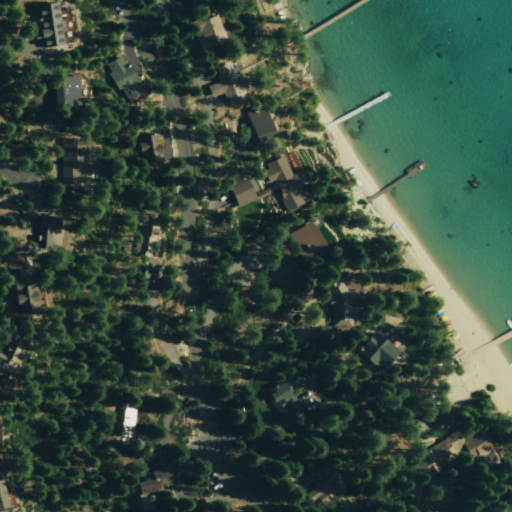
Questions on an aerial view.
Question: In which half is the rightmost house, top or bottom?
bottom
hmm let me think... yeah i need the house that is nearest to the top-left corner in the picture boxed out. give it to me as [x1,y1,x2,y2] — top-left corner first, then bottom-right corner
[38,1,78,50]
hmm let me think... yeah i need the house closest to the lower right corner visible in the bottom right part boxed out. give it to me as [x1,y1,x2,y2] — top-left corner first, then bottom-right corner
[464,438,502,464]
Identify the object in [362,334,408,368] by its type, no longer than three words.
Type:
house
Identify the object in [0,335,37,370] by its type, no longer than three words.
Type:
house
